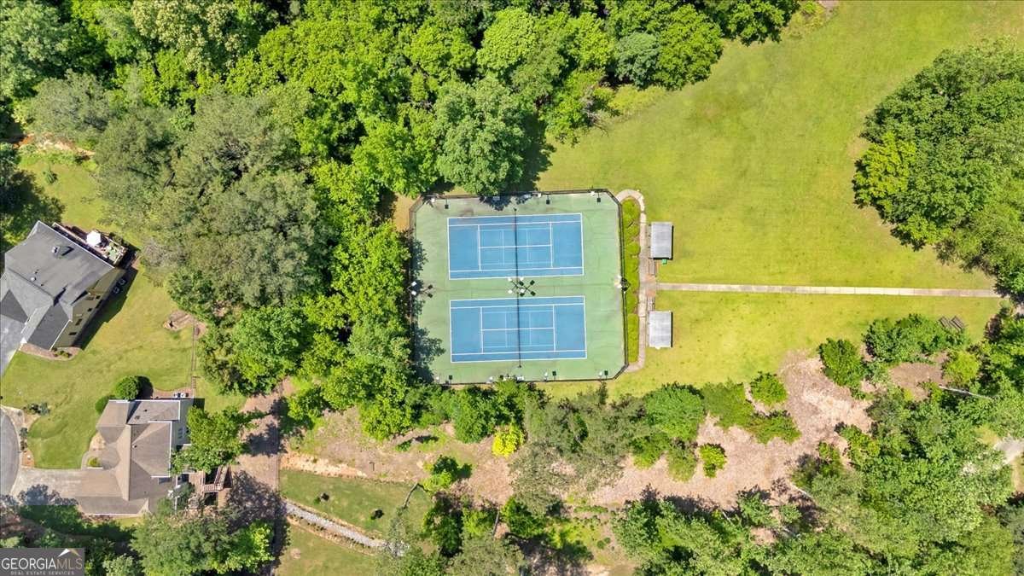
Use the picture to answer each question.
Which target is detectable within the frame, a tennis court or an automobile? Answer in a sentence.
Visible in the photo is a tennis court.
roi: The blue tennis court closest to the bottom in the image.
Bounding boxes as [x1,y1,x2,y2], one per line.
[450,293,586,367]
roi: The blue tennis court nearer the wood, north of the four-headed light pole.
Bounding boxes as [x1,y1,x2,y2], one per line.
[448,209,583,283]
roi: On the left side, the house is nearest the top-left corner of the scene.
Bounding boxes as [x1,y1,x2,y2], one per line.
[0,218,126,354]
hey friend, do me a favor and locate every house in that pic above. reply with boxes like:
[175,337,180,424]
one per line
[79,397,192,515]
[0,218,126,354]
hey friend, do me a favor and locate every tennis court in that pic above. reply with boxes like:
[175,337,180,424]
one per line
[450,293,586,367]
[448,209,583,283]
